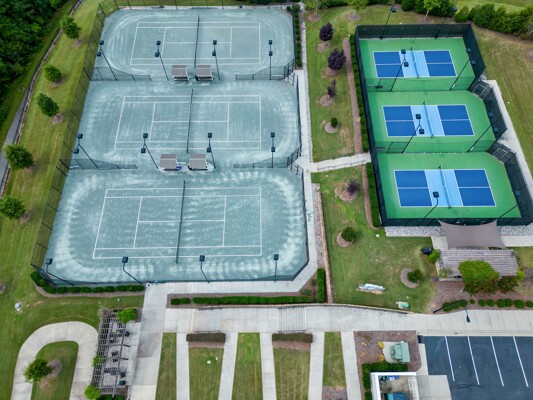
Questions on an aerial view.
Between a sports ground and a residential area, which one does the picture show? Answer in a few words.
sports ground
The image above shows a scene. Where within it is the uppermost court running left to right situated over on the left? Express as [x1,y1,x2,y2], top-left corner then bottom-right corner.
[91,7,297,80]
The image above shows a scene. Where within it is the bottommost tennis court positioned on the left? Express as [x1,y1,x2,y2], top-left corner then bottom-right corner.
[43,166,310,285]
